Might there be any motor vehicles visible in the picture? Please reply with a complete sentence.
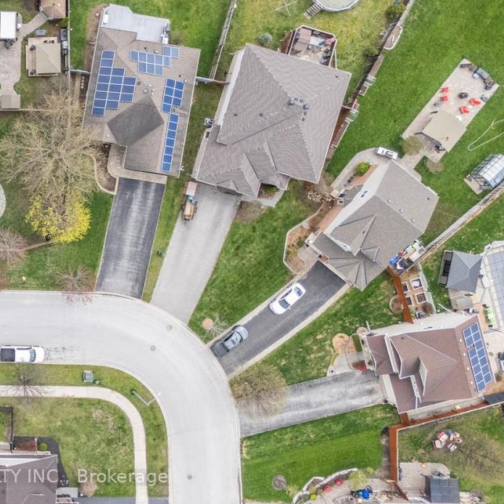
Yes, the frame does contain a motor vehicle.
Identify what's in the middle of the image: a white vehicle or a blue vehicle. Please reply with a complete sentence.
You can see a white vehicle in the middle of the image.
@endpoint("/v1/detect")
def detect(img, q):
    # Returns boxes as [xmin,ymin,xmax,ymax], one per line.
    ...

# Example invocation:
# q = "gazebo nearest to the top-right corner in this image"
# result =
[417,110,465,153]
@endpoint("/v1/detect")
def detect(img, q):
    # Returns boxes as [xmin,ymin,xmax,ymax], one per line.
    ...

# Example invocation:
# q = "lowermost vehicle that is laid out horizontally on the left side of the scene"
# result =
[0,345,44,365]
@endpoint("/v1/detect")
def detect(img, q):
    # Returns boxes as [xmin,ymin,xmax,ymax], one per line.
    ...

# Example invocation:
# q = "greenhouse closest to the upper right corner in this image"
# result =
[465,155,504,189]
